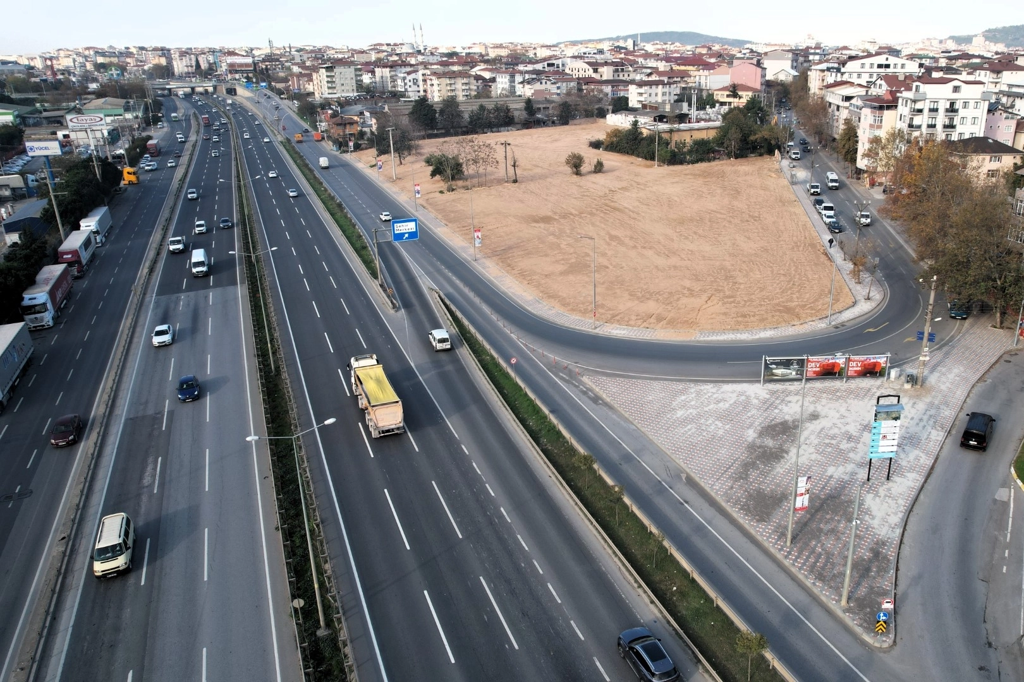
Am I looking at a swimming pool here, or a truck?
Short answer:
truck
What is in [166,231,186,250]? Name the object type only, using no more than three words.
vehicle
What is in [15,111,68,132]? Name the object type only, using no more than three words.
house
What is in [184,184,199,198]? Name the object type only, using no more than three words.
car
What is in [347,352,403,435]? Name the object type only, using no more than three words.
truck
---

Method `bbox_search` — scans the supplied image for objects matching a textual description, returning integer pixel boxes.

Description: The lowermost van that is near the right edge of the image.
[960,405,996,449]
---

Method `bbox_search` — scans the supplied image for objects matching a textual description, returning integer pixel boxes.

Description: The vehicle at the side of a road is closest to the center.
[425,323,450,349]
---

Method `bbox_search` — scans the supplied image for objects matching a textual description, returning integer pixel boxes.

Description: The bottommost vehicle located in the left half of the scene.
[89,505,136,576]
